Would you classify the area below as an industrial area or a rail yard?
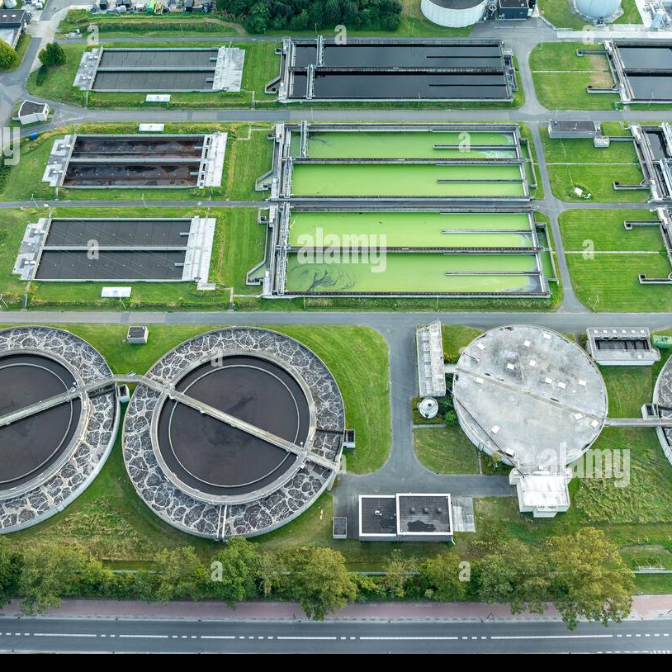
industrial area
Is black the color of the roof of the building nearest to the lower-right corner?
No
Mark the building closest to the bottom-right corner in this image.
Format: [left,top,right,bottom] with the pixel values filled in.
[506,464,572,515]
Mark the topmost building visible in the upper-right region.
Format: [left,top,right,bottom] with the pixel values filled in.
[495,0,529,18]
